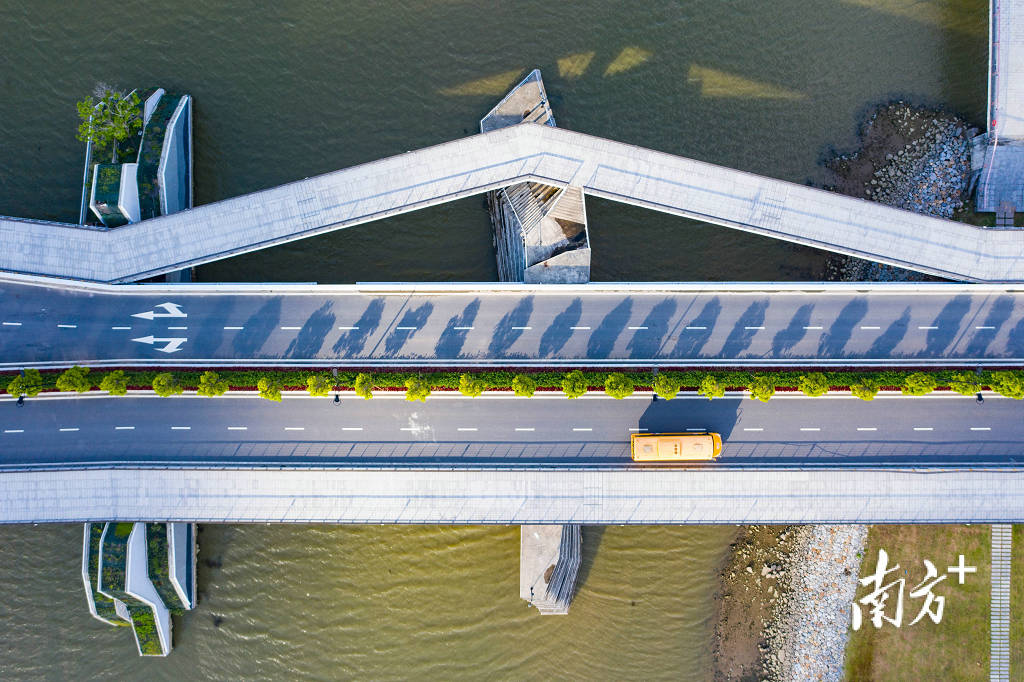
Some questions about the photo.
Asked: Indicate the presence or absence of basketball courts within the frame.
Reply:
No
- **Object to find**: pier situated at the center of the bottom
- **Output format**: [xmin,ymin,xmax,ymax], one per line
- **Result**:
[519,524,583,614]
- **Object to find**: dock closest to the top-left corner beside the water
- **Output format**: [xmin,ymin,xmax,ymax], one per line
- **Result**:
[81,89,195,226]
